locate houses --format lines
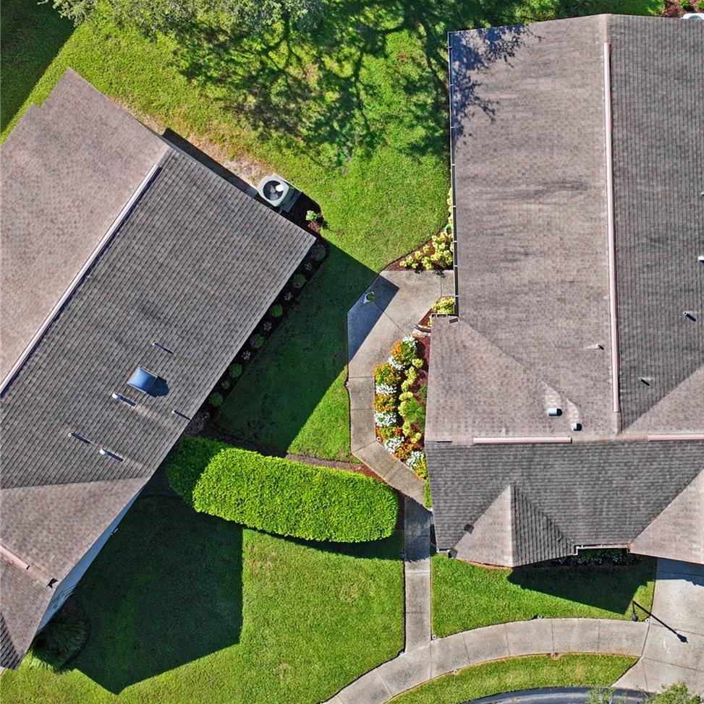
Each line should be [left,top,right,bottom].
[427,12,704,567]
[0,67,316,675]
